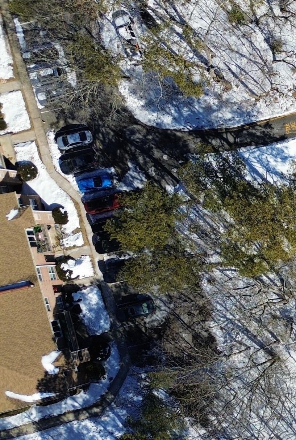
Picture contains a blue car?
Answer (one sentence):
Yes, looking at the shot, I can spot a blue car.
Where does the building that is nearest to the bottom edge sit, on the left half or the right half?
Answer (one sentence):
The building that is nearest to the bottom edge sits on the left side.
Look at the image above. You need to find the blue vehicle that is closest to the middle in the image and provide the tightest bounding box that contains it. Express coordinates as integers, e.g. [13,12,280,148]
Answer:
[76,172,116,190]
